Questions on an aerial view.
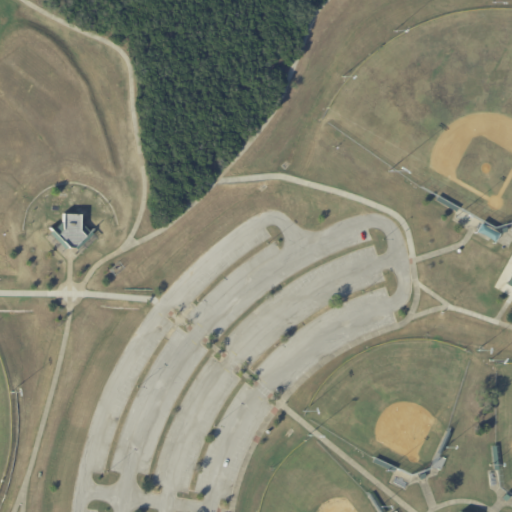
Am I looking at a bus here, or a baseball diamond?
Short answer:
baseball diamond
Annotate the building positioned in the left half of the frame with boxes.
[48,214,98,250]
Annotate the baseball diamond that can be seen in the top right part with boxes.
[324,8,512,226]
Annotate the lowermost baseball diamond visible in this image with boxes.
[260,440,378,512]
